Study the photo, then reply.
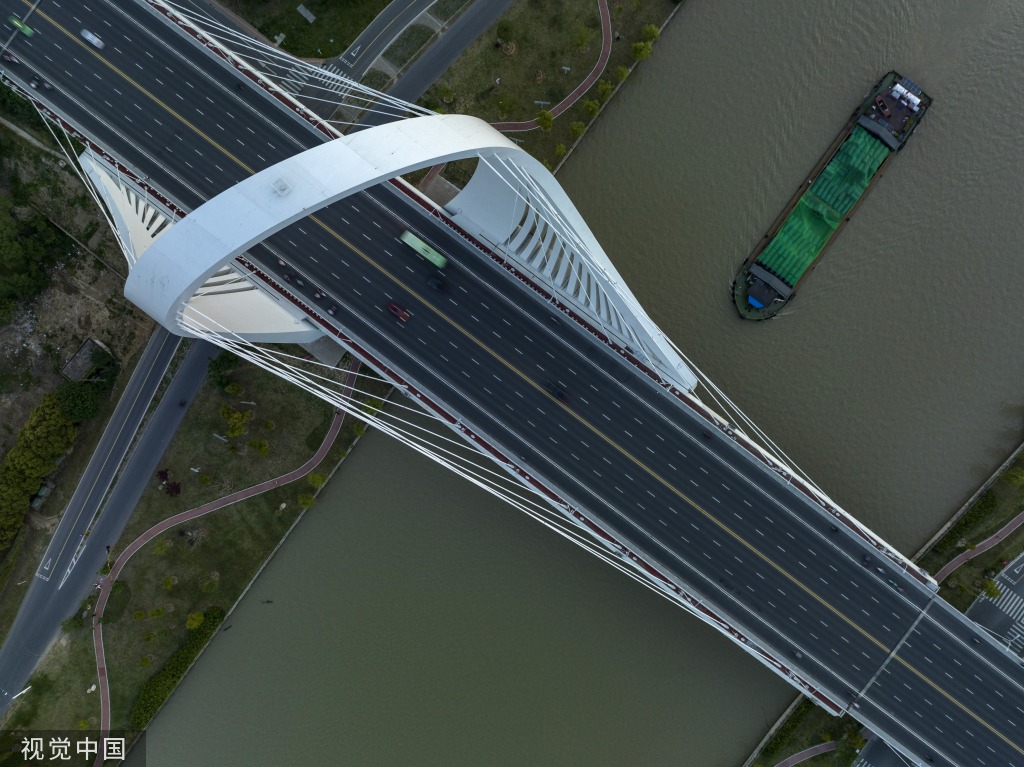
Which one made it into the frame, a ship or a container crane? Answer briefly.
ship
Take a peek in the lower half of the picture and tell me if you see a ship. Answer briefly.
No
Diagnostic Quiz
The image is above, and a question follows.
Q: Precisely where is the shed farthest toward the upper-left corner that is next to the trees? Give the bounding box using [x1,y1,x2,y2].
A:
[59,337,119,388]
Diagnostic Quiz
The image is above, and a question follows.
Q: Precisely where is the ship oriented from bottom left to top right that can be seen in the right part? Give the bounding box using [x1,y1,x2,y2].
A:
[730,71,929,323]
